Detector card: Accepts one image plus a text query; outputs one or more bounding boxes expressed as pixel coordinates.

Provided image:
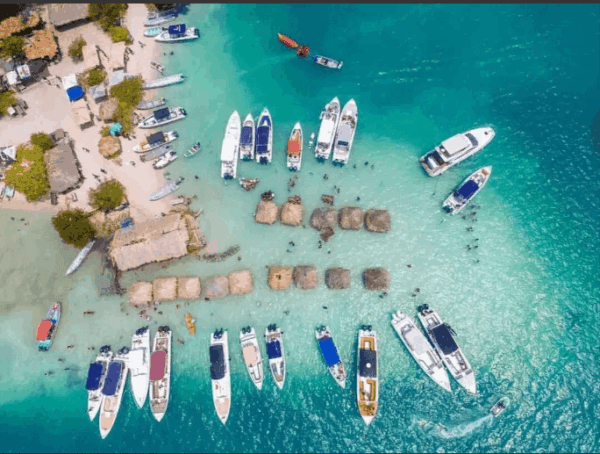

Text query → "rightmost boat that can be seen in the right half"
[489,397,508,417]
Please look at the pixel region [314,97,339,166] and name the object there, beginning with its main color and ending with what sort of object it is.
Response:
white boat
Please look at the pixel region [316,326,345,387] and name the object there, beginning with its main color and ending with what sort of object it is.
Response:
blue boat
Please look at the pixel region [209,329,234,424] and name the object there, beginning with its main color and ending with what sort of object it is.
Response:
white boat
